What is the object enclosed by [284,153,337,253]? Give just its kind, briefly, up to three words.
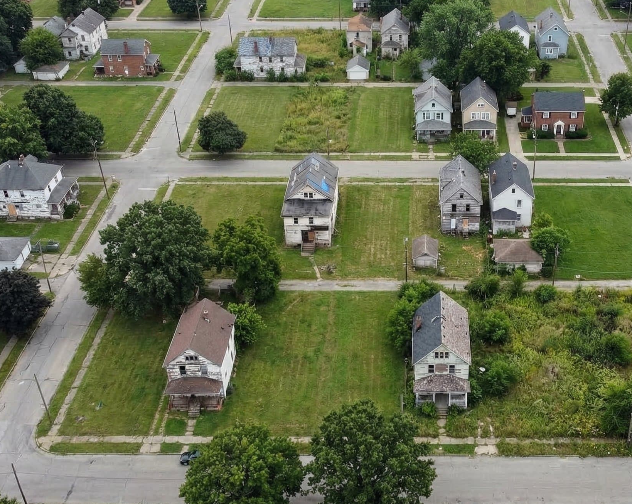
house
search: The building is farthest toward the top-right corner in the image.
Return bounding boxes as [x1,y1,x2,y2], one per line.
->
[537,3,570,54]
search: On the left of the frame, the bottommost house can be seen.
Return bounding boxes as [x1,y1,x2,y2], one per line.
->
[161,298,234,416]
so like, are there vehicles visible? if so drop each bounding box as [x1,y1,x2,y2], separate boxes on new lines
[505,95,517,115]
[177,448,209,465]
